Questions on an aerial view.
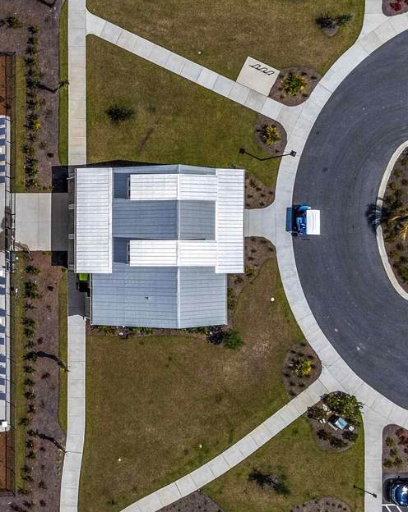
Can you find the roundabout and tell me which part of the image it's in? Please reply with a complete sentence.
The roundabout appears toward the right of the photo.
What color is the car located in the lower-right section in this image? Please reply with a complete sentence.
The car located in the lower-right section is black.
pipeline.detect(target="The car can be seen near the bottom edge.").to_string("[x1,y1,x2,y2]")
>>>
[384,481,408,507]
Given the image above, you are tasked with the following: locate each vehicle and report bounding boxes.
[384,481,408,507]
[292,207,321,237]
